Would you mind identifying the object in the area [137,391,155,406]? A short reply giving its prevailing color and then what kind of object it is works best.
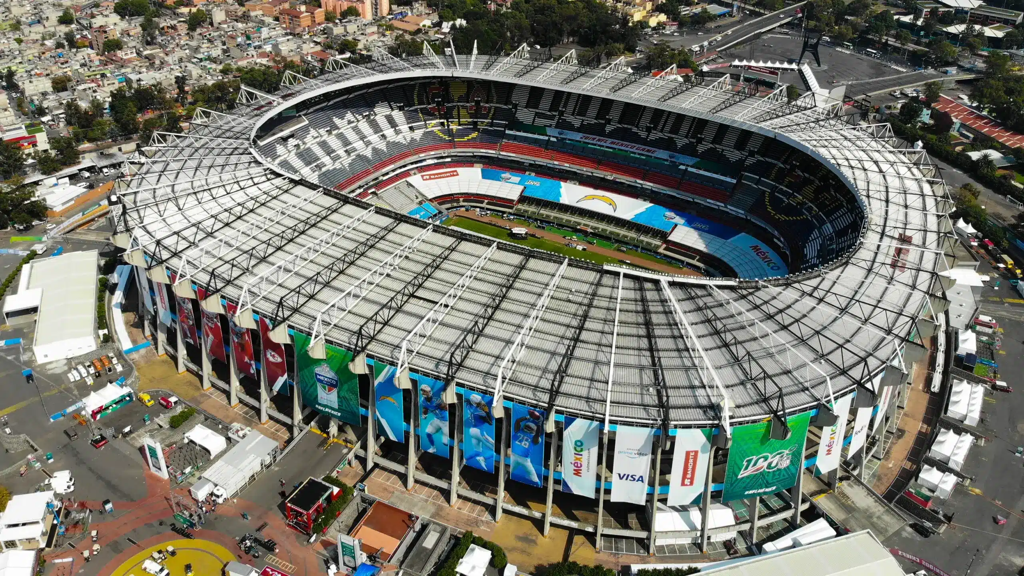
yellow vehicle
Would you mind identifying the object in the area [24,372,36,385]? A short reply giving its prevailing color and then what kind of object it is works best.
black vehicle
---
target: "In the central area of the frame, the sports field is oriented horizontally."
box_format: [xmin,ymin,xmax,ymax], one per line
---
[443,222,651,268]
